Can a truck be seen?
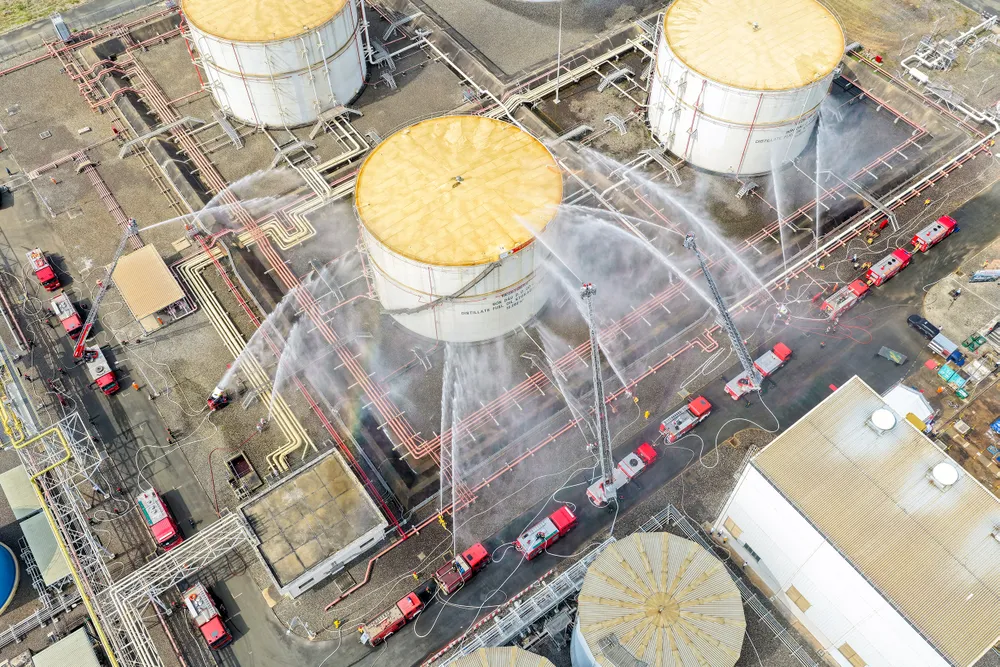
Yes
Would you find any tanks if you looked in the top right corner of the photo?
Yes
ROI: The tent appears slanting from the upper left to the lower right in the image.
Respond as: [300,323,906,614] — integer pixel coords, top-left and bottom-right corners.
[883,383,935,424]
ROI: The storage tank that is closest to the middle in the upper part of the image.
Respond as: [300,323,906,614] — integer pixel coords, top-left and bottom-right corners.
[353,108,565,348]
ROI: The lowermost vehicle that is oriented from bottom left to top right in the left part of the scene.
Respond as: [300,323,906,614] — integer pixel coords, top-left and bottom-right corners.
[361,588,431,650]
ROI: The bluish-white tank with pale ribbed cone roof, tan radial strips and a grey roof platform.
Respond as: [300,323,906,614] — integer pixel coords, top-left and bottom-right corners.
[571,532,747,667]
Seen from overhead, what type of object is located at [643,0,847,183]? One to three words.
storage tank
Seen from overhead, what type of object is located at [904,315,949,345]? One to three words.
car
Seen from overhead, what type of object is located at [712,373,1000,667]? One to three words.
building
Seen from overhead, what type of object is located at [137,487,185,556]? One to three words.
truck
